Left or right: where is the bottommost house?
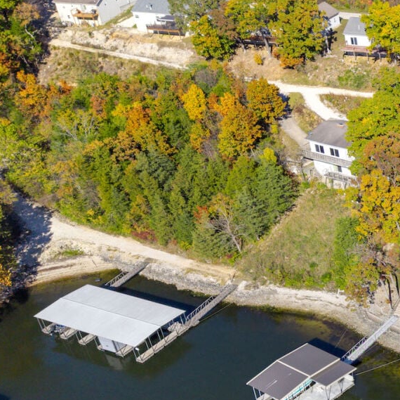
right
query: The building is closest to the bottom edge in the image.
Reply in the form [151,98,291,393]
[296,126,383,191]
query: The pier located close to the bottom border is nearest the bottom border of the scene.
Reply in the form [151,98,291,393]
[246,343,356,400]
